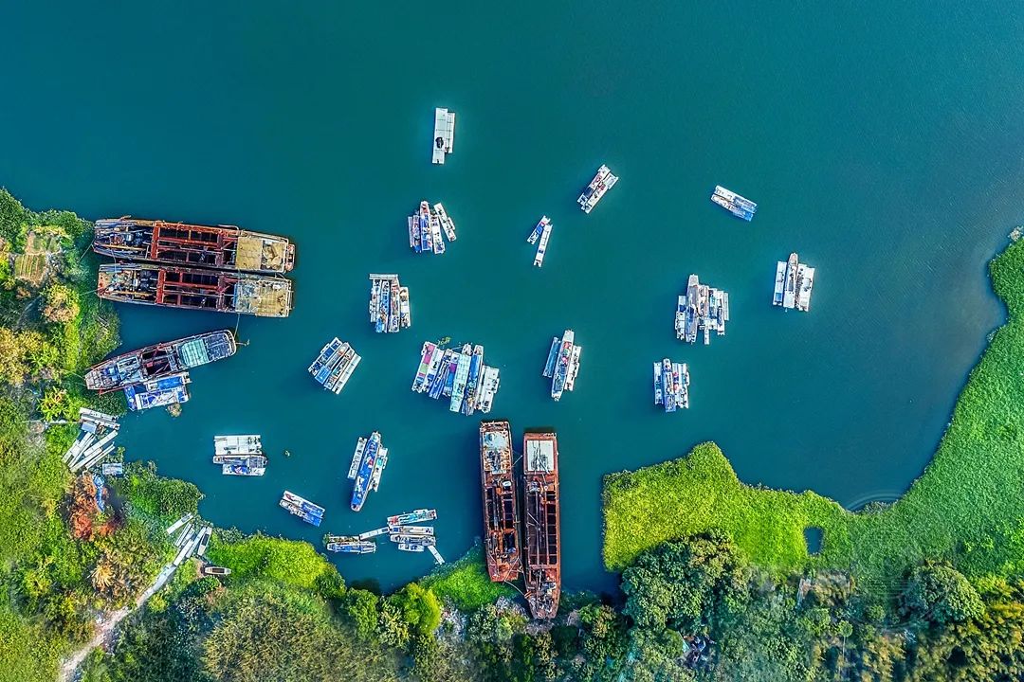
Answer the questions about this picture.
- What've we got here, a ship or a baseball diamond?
ship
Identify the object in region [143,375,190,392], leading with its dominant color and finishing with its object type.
blue boat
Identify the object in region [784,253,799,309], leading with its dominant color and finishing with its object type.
white boat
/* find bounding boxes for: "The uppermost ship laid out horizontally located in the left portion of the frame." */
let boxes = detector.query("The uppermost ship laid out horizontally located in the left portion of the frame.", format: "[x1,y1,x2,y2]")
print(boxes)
[91,212,297,275]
